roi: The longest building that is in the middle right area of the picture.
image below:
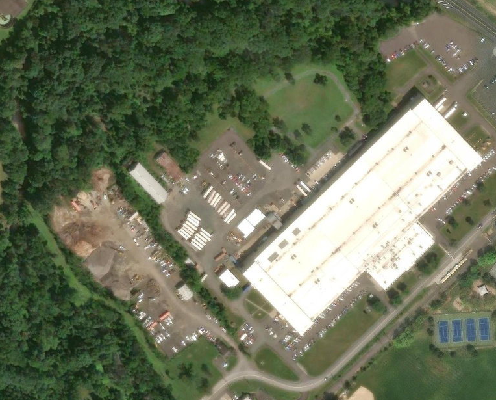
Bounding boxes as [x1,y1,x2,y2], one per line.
[242,98,482,336]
